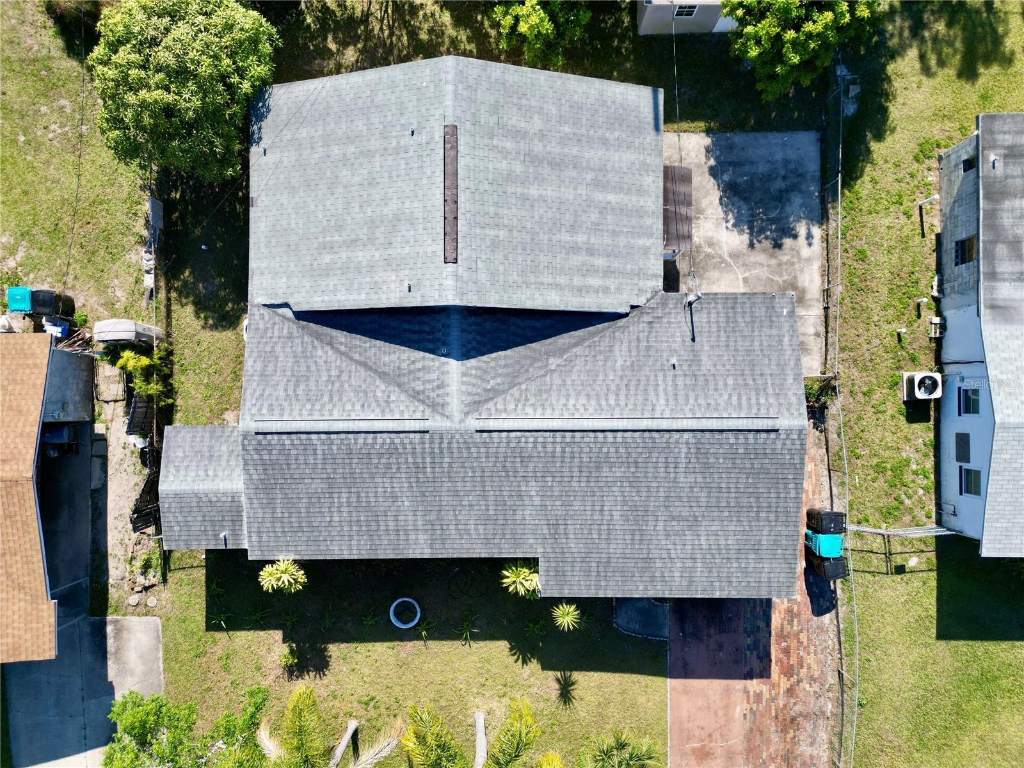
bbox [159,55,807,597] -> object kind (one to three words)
house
